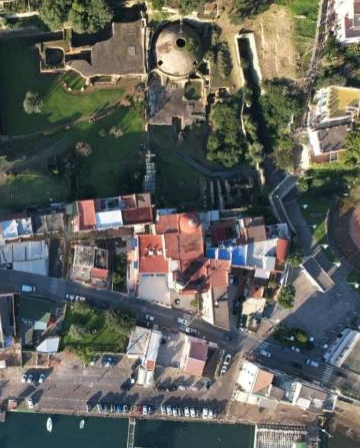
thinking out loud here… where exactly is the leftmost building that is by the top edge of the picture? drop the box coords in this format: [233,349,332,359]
[68,19,144,79]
